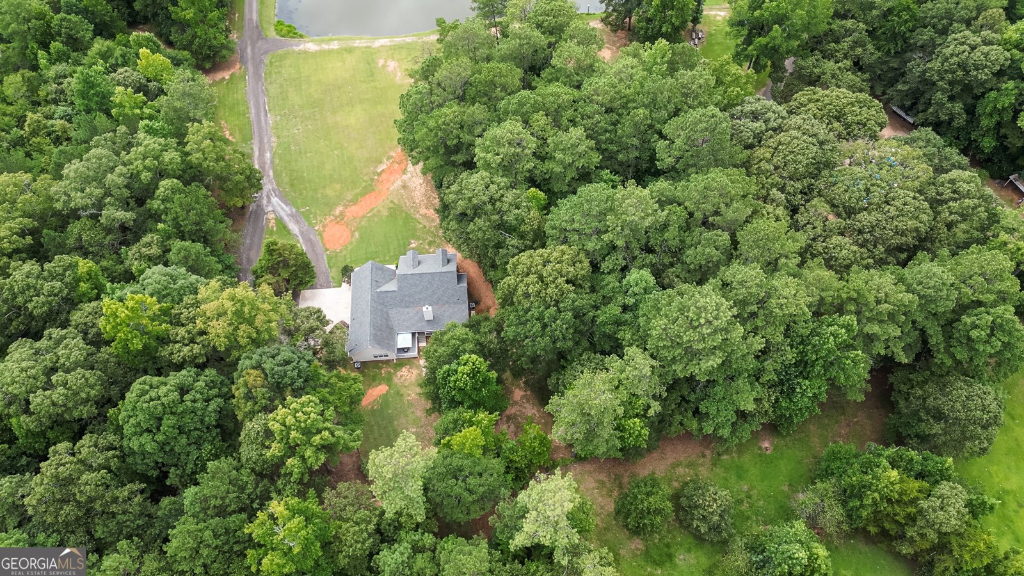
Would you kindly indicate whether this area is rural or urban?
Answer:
rural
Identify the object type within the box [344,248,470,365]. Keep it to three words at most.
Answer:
house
